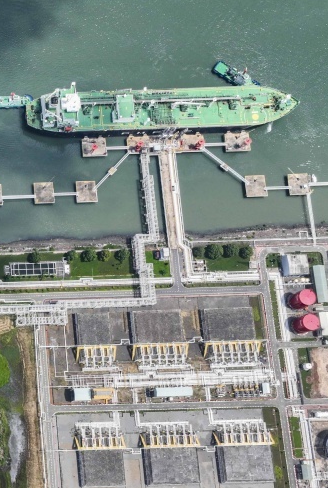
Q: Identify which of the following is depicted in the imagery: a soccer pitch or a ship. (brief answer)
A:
ship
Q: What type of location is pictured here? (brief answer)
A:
industrial area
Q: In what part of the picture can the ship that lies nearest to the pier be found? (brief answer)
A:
top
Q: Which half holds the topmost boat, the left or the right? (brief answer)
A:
right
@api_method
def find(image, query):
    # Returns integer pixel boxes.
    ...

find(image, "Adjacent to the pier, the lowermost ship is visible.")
[26,83,301,136]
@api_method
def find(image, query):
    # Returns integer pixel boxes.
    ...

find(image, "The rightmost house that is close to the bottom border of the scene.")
[297,460,314,480]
